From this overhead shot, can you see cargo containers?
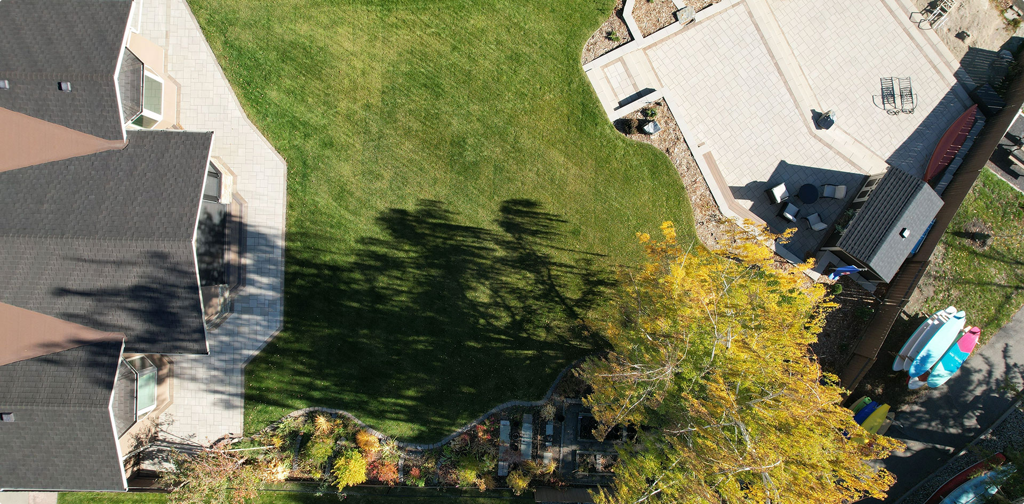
No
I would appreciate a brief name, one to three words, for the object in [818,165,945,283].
shed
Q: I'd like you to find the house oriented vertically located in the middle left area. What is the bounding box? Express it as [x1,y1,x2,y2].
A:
[0,0,233,492]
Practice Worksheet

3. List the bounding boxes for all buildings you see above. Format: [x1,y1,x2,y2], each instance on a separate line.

[818,165,945,283]
[0,0,233,492]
